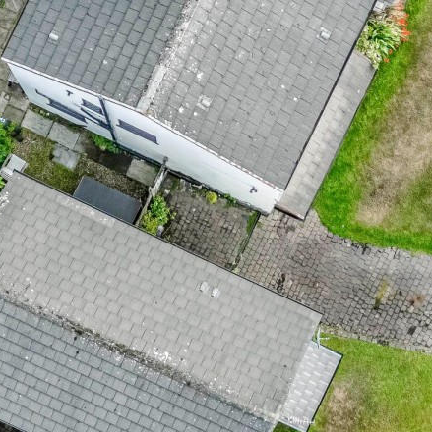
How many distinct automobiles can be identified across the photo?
0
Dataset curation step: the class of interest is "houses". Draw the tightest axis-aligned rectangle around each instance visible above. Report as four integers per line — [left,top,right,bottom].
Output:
[0,173,344,432]
[0,0,379,220]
